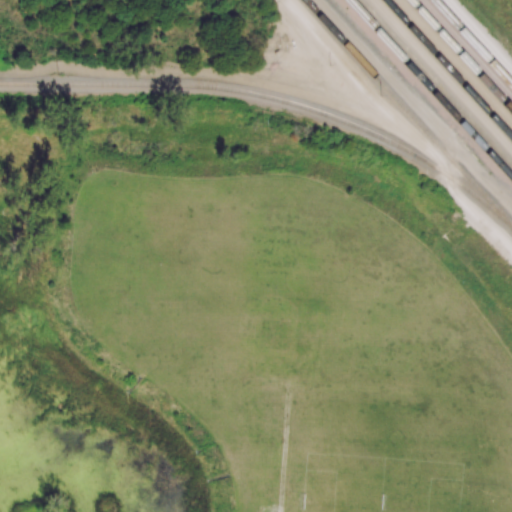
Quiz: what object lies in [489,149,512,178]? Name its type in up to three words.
rail car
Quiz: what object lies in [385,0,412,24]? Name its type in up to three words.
rail car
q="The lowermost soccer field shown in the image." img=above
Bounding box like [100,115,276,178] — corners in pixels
[303,454,464,512]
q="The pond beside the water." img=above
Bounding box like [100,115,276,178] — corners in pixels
[0,342,186,512]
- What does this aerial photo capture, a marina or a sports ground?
sports ground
